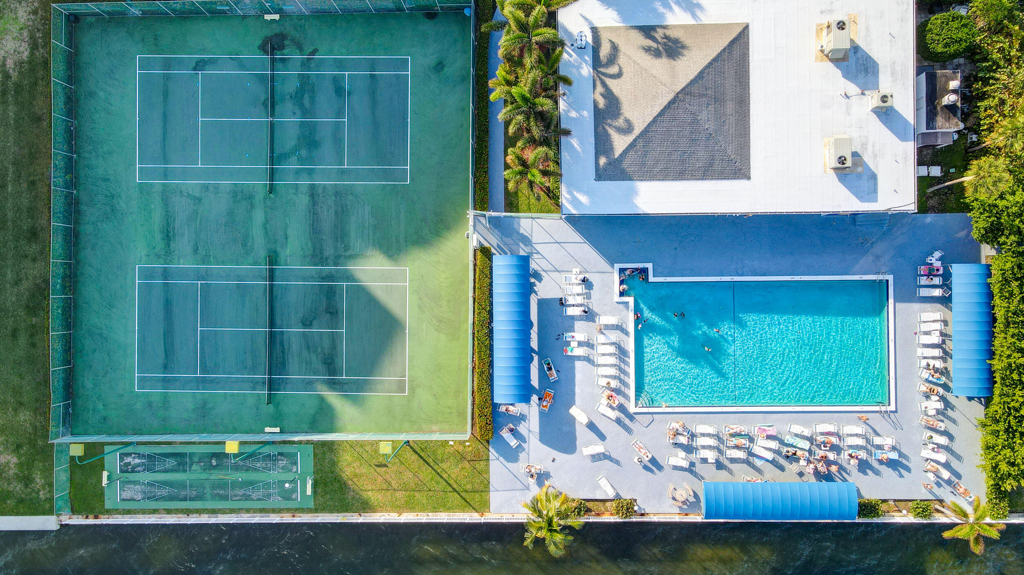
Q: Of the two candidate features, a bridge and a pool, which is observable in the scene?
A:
pool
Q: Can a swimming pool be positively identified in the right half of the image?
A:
Yes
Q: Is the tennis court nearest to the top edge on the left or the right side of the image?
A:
left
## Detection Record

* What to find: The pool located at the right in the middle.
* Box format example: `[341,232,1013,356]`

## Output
[614,263,896,414]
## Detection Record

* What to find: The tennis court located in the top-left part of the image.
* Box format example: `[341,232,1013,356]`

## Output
[73,12,473,226]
